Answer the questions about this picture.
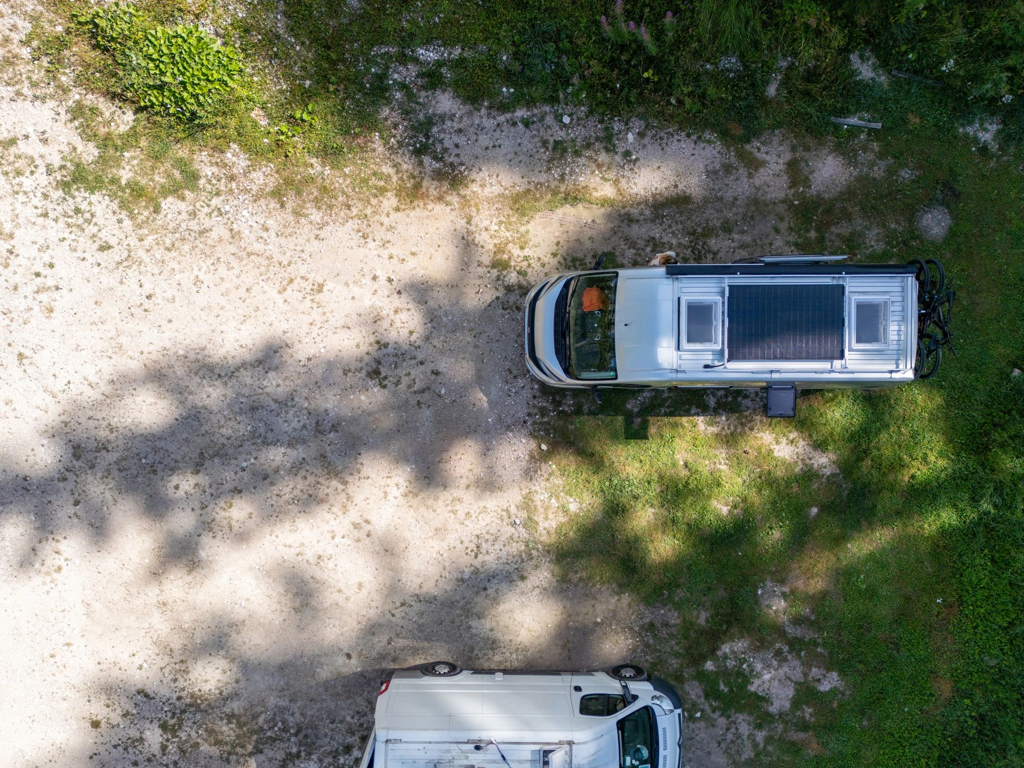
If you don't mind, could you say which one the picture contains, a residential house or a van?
van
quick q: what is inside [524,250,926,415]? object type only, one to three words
van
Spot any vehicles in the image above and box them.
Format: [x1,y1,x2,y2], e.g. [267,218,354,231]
[355,663,686,768]
[524,250,926,415]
